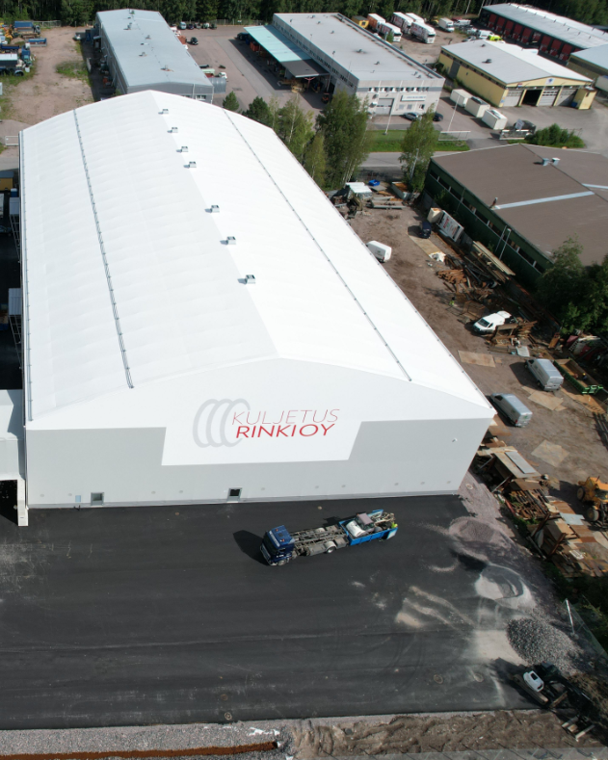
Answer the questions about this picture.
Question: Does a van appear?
Yes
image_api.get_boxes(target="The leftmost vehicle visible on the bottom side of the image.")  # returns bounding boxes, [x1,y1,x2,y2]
[259,521,351,564]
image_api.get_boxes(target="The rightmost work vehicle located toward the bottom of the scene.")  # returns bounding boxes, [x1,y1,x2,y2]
[569,473,608,515]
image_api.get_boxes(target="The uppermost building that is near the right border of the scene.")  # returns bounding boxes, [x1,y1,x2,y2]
[485,0,608,68]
